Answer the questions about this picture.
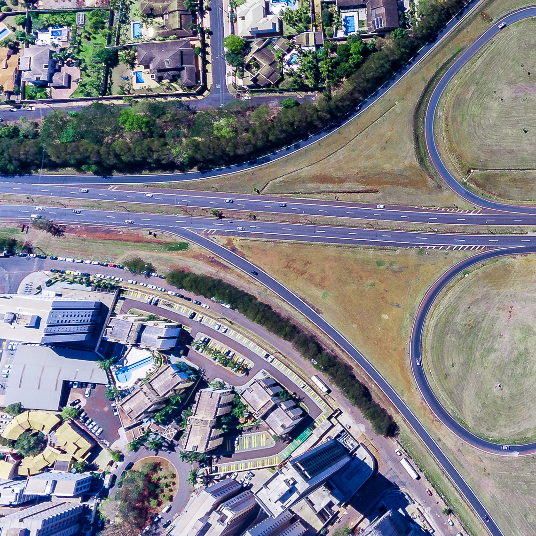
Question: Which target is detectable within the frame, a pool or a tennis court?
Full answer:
Visible in the photo is a pool.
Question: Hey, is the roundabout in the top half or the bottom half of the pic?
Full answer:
The bottom half of the photo is where the roundabout is.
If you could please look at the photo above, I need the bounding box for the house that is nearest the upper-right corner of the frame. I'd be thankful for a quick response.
[336,0,398,31]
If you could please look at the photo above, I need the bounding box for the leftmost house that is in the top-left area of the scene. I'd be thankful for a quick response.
[0,47,21,93]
